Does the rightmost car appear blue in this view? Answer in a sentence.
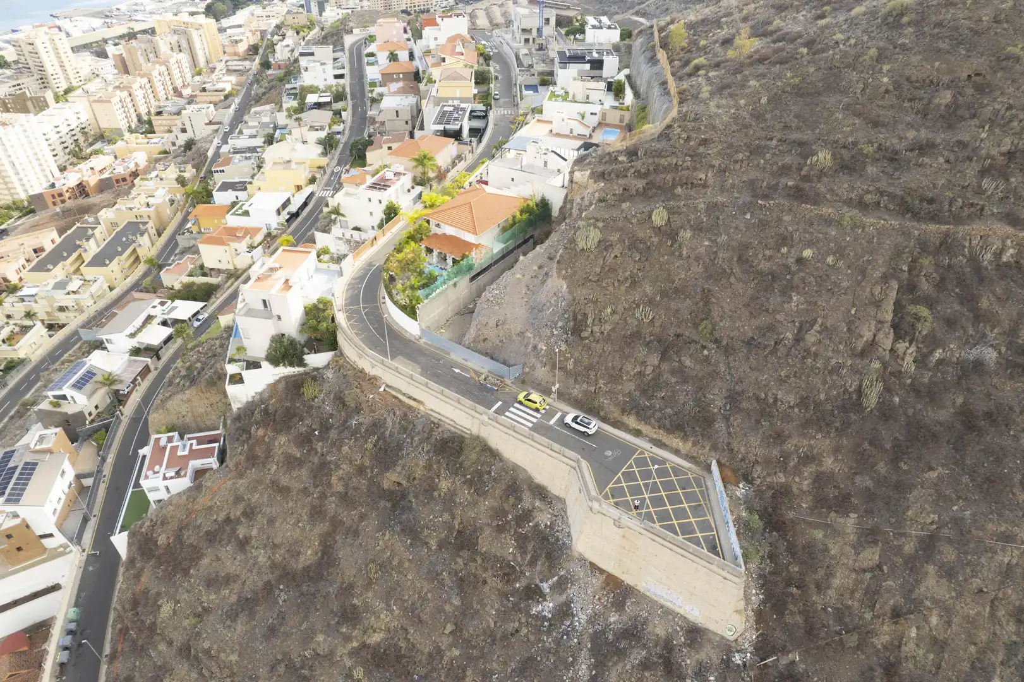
No, the color of the rightmost car is white.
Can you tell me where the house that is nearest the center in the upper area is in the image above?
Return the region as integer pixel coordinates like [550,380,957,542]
[420,182,531,264]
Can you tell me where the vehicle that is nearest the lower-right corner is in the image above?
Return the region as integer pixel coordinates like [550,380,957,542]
[564,416,598,438]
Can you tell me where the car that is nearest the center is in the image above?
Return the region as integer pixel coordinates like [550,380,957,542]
[519,394,548,413]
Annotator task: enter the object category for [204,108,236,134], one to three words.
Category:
building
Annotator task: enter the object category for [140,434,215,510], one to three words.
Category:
house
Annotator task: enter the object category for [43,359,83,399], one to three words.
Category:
house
